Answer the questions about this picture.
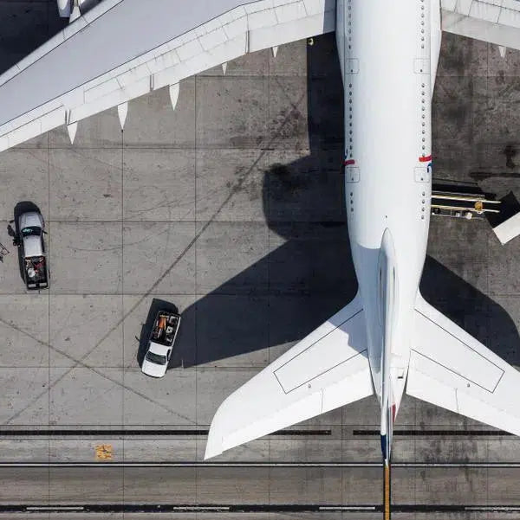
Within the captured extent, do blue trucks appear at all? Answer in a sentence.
No, no blue truck can be seen from above.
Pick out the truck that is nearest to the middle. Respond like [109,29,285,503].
[142,308,181,380]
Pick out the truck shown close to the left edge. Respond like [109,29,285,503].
[15,210,47,290]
